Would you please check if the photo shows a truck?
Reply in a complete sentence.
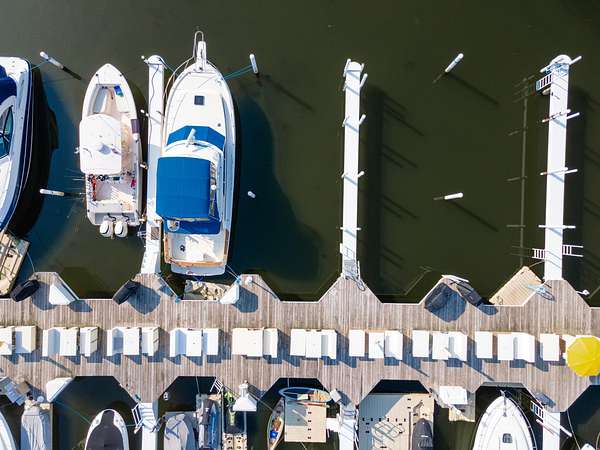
No, no truck can be seen from above.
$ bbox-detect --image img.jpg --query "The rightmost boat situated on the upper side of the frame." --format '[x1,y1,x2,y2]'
[155,31,238,274]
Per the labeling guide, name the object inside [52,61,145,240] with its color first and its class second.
white boat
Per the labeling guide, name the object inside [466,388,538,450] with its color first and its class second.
white boat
